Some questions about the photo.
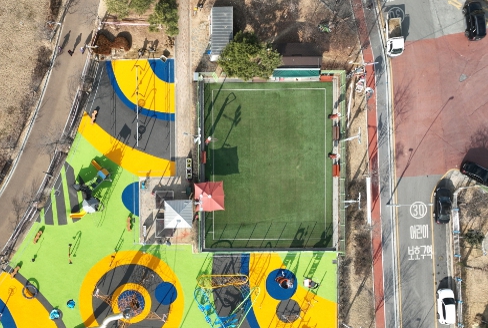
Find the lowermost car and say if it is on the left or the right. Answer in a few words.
right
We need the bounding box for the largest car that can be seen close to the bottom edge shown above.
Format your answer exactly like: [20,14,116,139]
[437,290,458,325]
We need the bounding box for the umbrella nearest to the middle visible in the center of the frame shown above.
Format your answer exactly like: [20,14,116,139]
[194,181,225,212]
